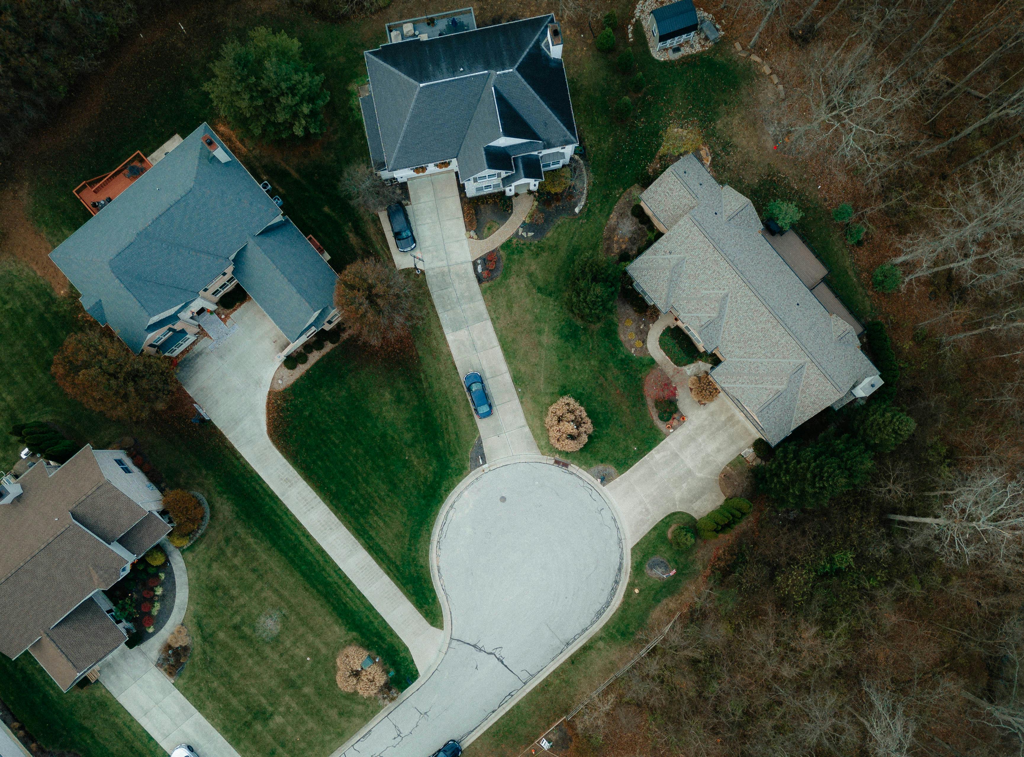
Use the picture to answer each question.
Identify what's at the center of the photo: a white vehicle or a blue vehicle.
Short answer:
blue vehicle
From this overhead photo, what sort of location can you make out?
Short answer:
residential area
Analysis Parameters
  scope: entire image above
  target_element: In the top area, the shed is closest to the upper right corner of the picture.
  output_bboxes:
[648,0,699,52]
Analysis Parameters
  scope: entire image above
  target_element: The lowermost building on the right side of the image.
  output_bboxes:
[626,153,884,449]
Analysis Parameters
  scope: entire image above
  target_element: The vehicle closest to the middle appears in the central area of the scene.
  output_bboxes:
[465,371,493,420]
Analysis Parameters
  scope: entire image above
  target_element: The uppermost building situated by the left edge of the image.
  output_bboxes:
[47,121,353,362]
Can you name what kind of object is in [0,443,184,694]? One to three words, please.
house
